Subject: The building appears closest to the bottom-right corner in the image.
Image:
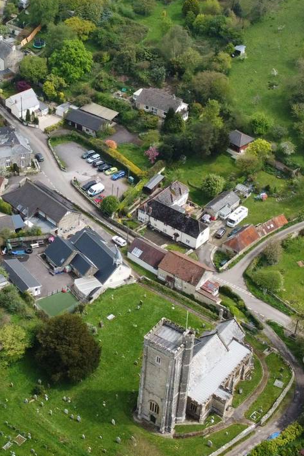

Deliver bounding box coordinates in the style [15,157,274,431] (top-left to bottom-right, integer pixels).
[136,311,254,432]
